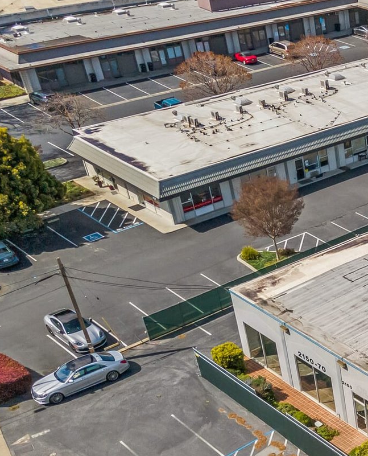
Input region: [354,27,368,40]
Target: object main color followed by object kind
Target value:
gray vehicle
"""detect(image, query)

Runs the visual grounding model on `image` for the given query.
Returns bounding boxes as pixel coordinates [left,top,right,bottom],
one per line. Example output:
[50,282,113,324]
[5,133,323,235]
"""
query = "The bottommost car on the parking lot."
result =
[28,345,130,400]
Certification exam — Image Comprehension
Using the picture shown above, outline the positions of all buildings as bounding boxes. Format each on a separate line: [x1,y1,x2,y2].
[0,0,368,90]
[65,54,368,222]
[229,232,368,434]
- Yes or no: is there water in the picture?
No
